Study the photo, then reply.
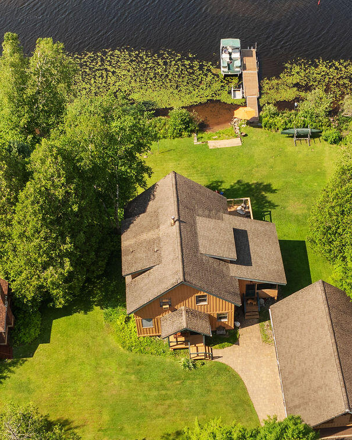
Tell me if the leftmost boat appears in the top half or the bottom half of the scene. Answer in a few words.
top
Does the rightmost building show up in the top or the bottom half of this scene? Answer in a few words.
bottom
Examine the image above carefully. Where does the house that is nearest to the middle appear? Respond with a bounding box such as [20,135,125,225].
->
[119,170,287,364]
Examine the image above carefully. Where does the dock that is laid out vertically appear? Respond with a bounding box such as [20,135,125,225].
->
[241,39,261,123]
